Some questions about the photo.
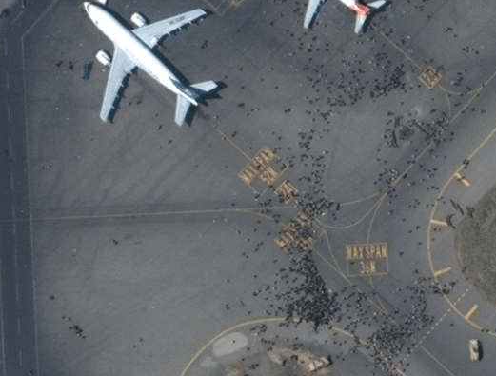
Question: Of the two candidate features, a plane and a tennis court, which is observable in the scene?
plane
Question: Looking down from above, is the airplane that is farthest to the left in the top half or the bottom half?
top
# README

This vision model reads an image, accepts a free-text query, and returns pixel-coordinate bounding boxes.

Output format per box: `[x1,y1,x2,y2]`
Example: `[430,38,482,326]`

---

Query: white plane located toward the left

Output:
[85,2,220,124]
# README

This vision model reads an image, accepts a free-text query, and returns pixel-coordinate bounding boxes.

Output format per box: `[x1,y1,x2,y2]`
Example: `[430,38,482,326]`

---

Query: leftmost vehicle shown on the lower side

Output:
[305,358,329,373]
